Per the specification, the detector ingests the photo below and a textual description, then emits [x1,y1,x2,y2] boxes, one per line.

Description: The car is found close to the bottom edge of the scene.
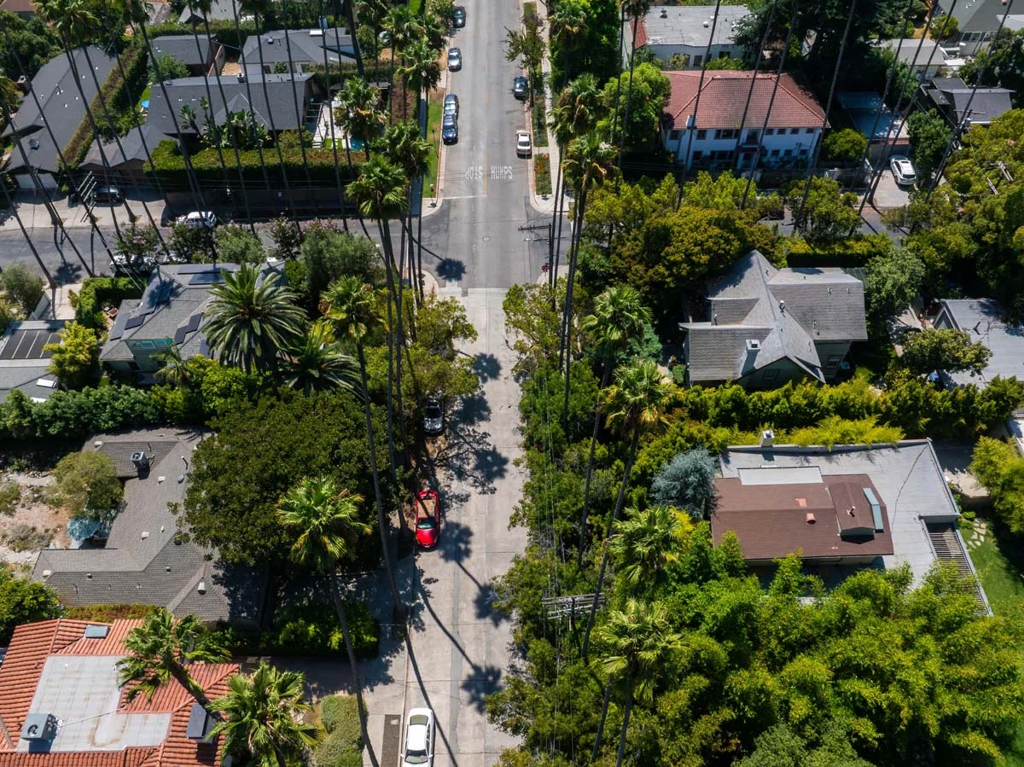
[398,705,438,767]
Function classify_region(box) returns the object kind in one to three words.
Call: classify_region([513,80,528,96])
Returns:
car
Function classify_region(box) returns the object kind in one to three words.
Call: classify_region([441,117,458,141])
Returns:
car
